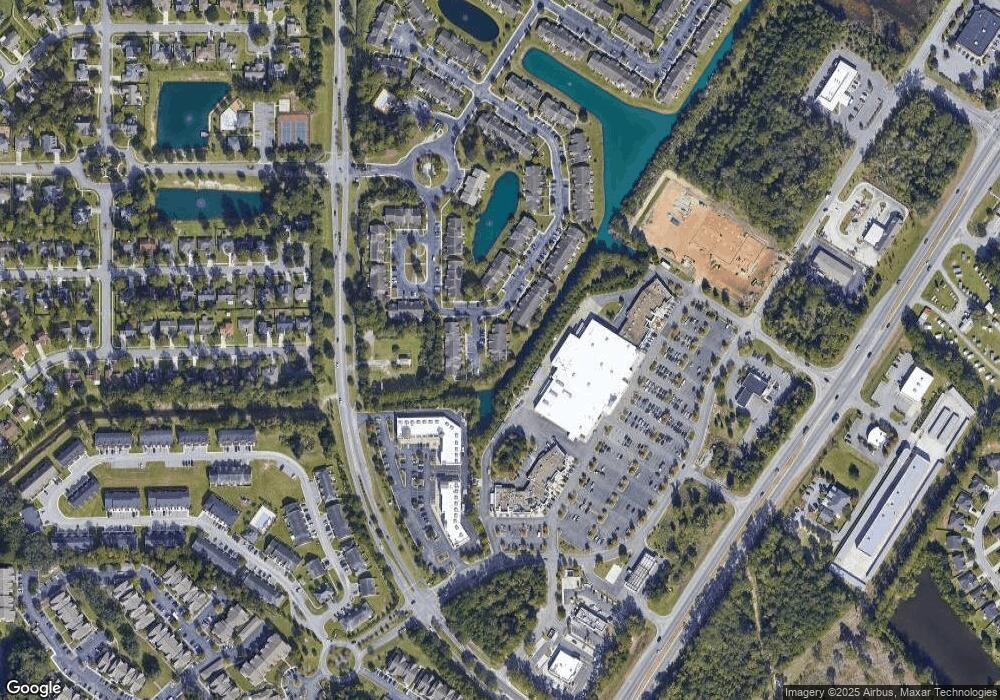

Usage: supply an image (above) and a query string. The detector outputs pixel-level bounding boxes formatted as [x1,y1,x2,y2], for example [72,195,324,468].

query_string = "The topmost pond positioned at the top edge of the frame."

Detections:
[438,0,498,42]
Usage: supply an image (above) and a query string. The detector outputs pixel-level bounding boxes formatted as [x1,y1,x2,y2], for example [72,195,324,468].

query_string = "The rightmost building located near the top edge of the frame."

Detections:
[959,7,1000,57]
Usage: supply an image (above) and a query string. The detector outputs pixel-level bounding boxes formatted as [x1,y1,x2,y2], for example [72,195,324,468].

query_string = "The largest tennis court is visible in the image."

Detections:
[278,112,310,145]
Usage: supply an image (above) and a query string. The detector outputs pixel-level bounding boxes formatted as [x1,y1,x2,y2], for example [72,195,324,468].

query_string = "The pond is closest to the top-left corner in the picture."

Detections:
[156,80,233,148]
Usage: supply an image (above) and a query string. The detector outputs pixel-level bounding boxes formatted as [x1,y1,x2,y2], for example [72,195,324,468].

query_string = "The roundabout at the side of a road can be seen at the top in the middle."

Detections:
[404,143,457,195]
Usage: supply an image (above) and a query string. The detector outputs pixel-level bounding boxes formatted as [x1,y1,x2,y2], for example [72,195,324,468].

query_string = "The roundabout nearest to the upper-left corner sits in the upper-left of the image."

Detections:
[74,137,136,190]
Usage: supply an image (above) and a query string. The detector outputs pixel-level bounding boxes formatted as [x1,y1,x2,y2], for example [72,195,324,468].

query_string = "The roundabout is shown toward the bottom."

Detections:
[321,639,362,680]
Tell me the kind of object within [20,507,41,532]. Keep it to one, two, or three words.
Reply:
house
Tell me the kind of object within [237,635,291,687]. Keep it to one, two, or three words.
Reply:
building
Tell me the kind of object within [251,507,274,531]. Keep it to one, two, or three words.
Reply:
swimming pool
